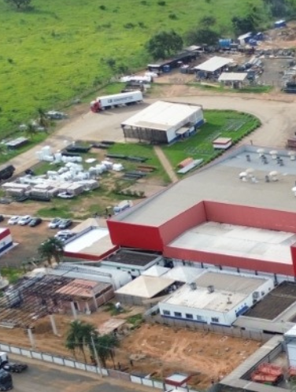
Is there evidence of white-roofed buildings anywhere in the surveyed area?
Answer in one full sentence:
Yes, this view includes a white-roofed building.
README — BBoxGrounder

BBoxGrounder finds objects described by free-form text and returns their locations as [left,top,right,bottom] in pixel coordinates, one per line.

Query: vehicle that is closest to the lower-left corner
[0,368,15,388]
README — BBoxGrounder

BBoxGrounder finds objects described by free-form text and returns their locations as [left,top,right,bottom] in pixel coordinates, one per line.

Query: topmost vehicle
[91,92,144,113]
